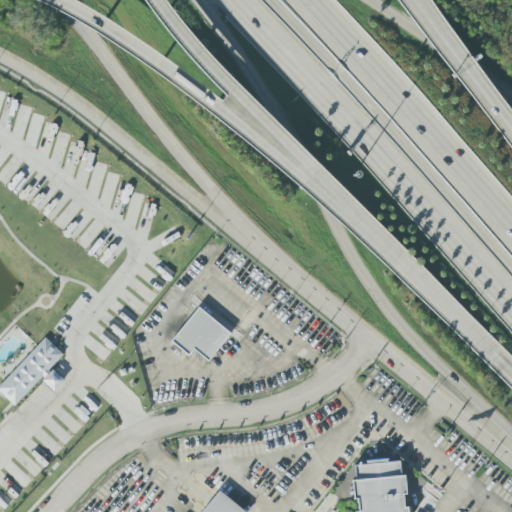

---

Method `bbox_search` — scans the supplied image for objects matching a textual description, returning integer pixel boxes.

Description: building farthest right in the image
[344,458,410,512]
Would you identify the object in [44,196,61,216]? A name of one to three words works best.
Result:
camper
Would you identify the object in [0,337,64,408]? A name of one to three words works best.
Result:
building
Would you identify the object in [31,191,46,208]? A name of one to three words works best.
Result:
camper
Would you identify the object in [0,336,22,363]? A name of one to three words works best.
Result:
swimming pool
